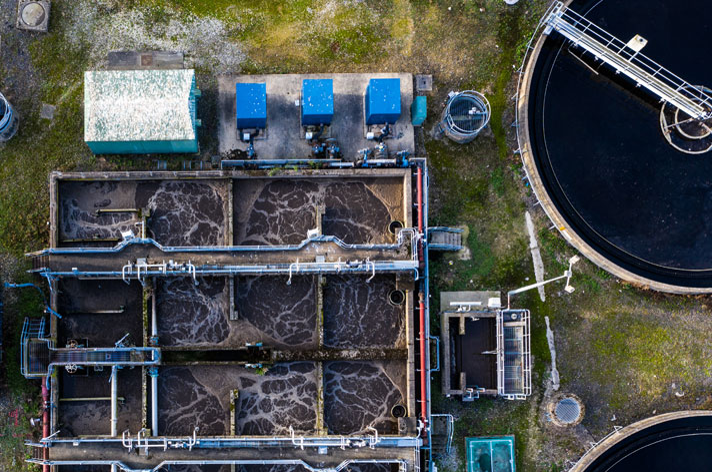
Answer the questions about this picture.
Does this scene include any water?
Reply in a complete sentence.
Yes, some water is visible.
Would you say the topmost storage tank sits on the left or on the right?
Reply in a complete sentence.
The topmost storage tank is on the right side of the image.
